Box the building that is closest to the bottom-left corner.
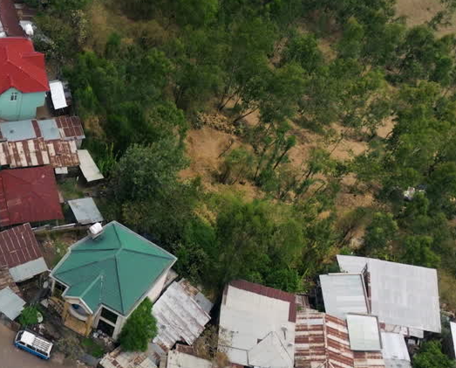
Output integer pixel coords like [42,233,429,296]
[0,287,26,330]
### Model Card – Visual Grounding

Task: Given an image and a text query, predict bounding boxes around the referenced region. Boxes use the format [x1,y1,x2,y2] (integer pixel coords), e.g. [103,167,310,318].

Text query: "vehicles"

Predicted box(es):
[12,331,55,361]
